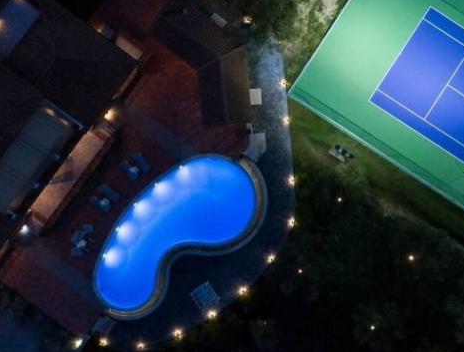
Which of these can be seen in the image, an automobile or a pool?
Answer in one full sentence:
I can see a pool in this picture.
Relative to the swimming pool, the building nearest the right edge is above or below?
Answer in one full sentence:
Looking at the photo, you'll find the building nearest the right edge above the swimming pool.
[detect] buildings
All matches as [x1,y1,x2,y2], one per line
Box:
[150,0,262,124]
[0,0,140,253]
